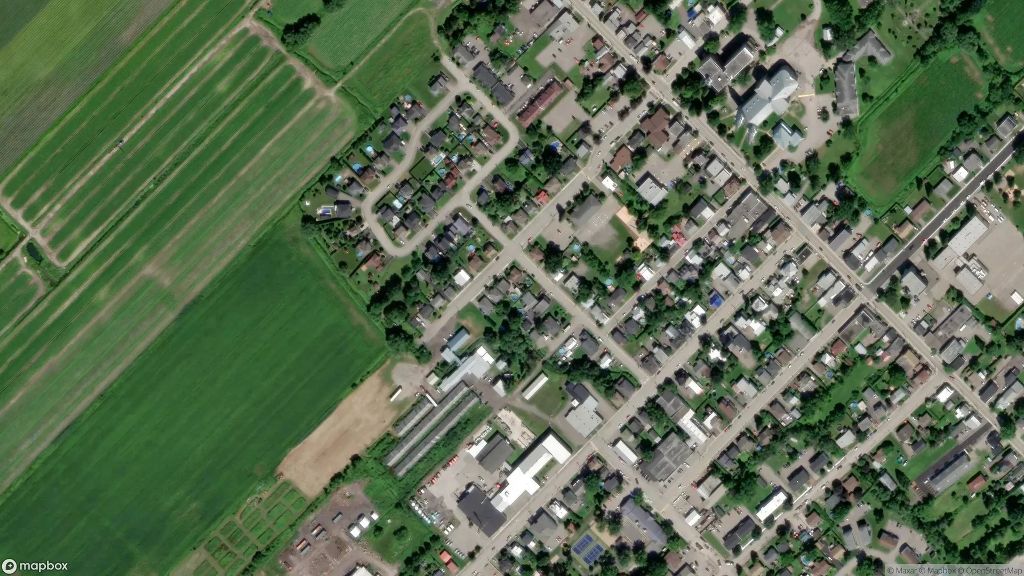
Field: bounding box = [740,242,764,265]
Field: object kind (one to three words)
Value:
building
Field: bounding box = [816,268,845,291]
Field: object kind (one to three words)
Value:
house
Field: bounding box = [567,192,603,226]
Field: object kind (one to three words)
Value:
building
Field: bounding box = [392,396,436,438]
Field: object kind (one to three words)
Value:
barn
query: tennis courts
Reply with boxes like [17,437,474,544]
[572,534,594,555]
[583,543,605,565]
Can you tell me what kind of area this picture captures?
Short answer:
residential area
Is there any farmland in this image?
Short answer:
Yes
